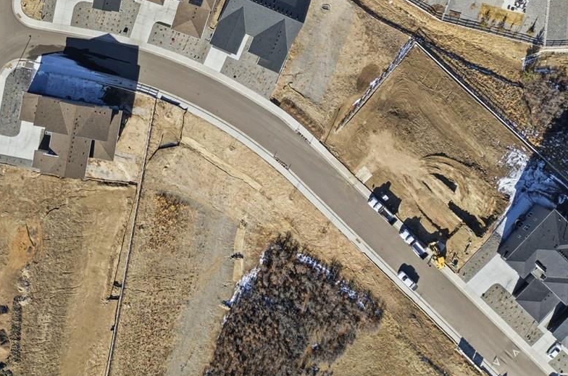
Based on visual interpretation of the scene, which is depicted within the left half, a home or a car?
home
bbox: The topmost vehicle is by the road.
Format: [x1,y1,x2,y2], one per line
[369,199,402,230]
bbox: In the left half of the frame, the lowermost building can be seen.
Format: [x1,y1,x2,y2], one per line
[19,89,120,178]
